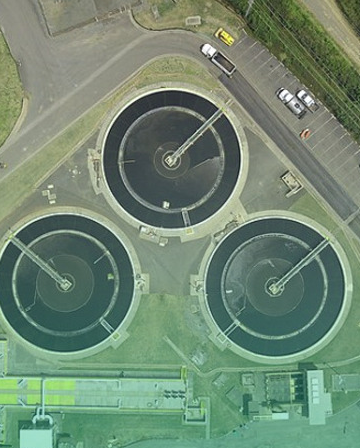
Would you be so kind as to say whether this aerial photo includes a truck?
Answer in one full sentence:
Yes, looking at the shot, I can spot a truck.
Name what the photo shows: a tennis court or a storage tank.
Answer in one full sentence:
Of the two, only a storage tank appears.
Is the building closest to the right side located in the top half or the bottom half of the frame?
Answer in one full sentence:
The bottom half of the photo is where the building closest to the right side is.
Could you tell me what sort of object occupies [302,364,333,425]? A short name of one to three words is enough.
building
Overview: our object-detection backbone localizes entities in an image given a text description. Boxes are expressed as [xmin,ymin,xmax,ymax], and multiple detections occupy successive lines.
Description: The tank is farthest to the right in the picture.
[198,210,352,365]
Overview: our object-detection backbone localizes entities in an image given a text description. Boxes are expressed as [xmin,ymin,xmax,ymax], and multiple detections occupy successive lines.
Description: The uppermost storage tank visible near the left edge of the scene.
[0,206,144,362]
